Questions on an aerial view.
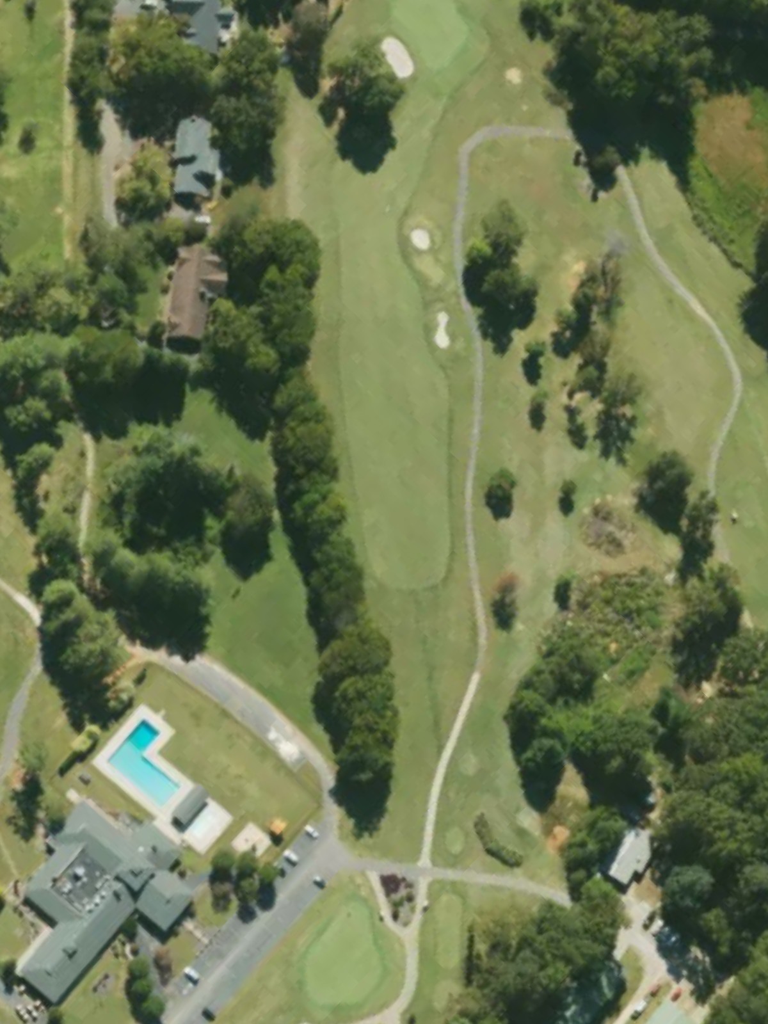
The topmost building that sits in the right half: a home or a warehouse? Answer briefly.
home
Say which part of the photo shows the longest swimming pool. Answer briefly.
bottom left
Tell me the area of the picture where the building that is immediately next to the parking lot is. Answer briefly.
bottom left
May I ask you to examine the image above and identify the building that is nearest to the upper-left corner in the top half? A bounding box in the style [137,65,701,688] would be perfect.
[165,0,233,50]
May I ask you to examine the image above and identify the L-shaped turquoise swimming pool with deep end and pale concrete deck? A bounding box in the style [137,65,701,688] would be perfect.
[93,705,233,854]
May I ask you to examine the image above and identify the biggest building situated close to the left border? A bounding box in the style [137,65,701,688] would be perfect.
[18,802,193,1003]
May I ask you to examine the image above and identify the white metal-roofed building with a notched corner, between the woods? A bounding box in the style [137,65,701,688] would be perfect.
[607,829,655,885]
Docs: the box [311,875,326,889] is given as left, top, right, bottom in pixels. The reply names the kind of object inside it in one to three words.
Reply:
car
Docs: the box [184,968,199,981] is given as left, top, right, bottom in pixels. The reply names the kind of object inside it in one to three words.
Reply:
vehicle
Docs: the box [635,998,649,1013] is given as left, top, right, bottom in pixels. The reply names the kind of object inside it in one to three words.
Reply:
car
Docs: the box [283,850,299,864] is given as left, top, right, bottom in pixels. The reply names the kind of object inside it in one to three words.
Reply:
vehicle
